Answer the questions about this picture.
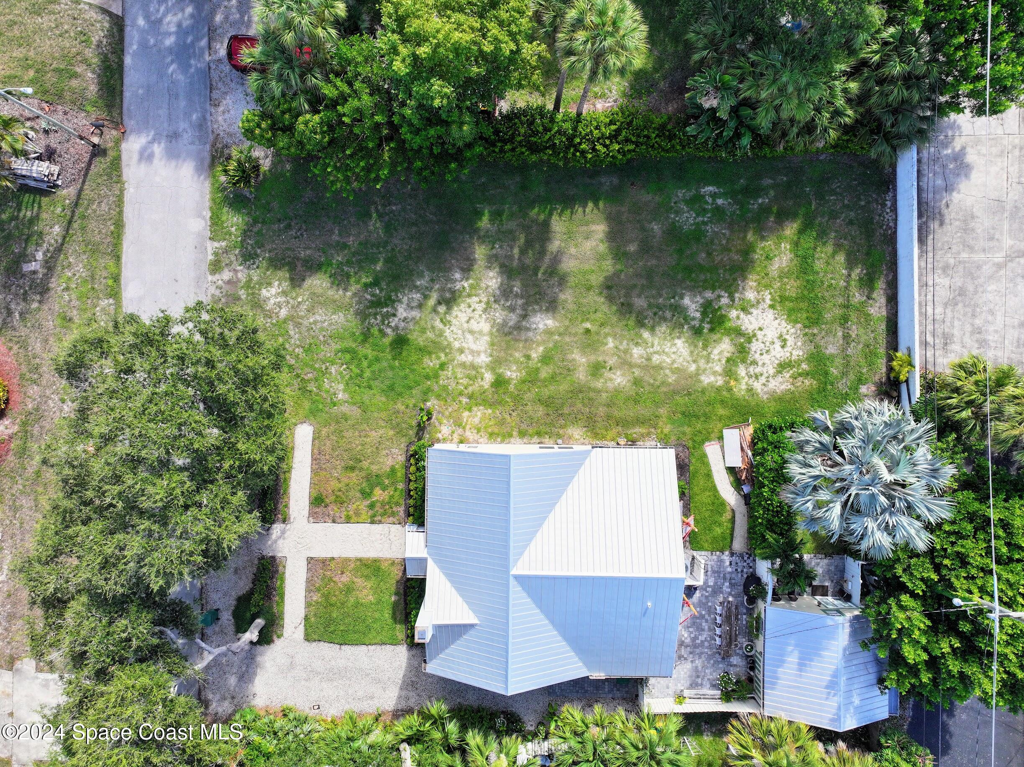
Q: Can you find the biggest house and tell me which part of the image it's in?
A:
bottom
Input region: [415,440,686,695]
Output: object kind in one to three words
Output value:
house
